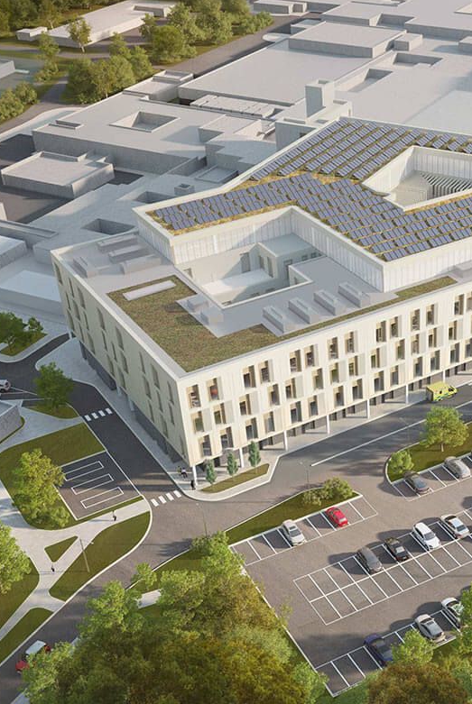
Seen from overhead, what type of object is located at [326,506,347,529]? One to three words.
car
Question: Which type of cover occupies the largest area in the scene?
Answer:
buildings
